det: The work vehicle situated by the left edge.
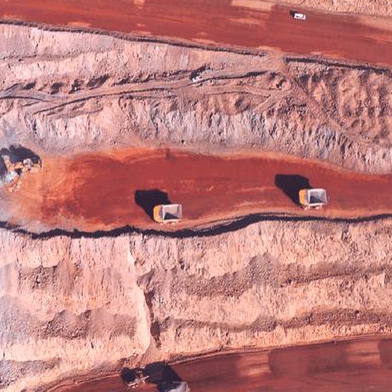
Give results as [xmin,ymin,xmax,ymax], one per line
[3,157,40,178]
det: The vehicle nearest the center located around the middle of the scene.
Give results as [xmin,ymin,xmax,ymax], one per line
[151,205,180,224]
